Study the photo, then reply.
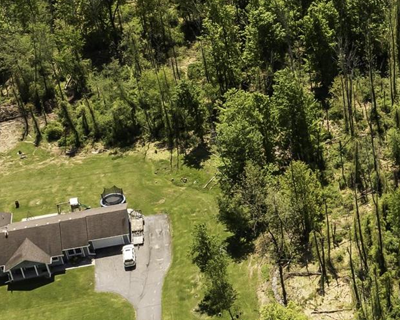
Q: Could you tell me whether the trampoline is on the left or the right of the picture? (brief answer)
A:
left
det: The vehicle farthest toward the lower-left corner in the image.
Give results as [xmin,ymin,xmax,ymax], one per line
[121,246,135,270]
